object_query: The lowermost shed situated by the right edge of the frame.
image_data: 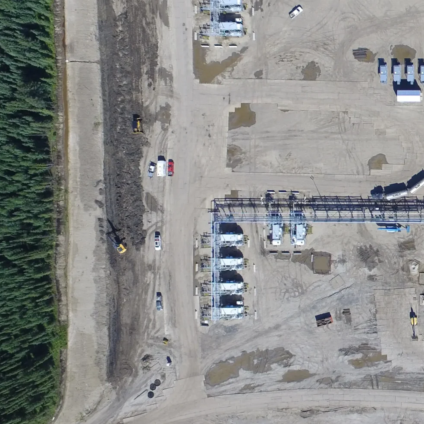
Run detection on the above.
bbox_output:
[396,88,423,104]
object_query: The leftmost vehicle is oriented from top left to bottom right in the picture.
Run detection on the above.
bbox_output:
[108,230,127,255]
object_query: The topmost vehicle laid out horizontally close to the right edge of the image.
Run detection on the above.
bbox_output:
[371,184,410,200]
